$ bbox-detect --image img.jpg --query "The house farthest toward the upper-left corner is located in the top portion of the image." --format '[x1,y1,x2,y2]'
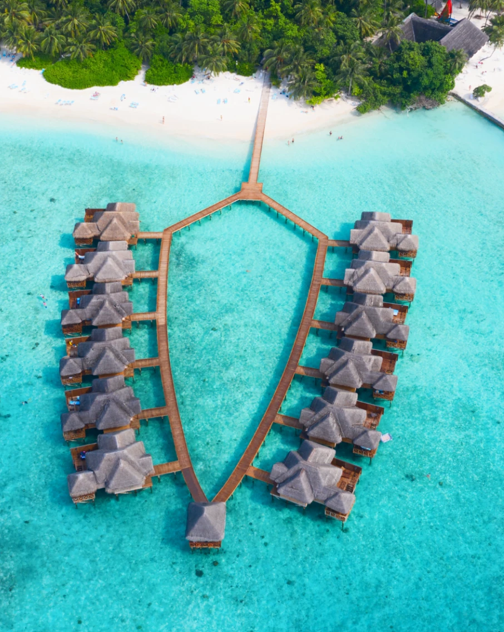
[72,201,141,257]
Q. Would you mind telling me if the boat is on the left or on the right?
right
